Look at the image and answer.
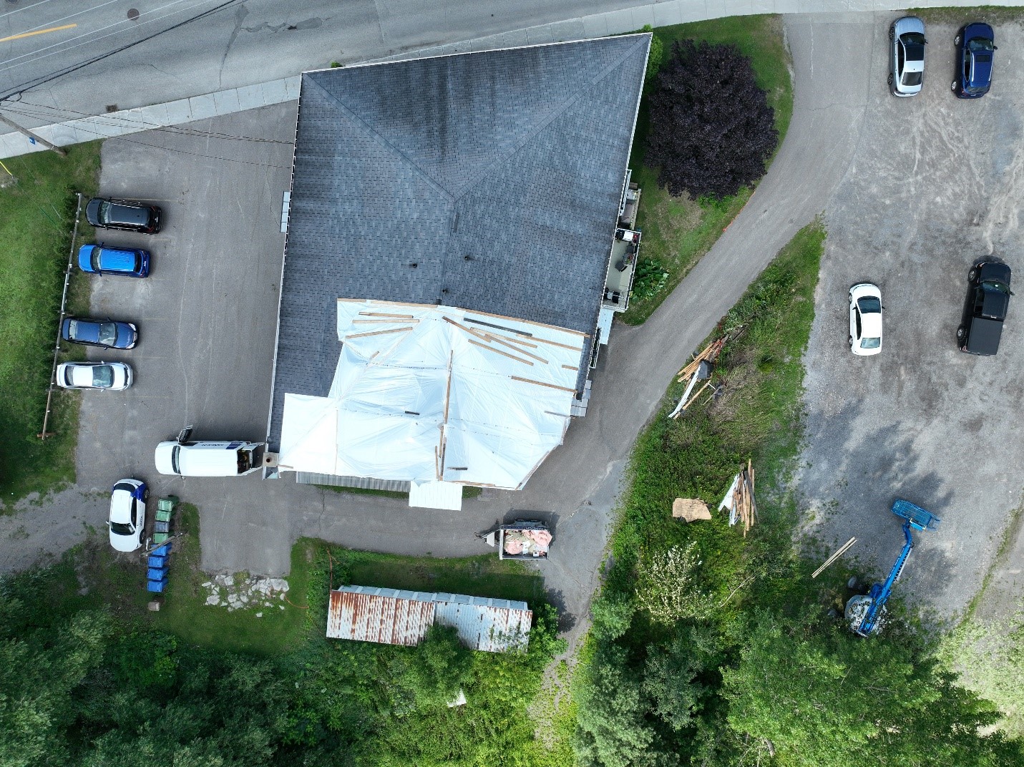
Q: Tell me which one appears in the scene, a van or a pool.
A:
van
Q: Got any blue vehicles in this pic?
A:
Yes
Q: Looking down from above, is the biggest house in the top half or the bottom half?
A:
top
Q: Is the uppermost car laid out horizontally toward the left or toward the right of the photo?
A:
left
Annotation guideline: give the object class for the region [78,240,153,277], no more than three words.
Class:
car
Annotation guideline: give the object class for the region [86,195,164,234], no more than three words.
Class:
car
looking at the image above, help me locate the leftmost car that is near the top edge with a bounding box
[888,19,931,97]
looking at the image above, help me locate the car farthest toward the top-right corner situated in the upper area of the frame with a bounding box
[954,23,1001,99]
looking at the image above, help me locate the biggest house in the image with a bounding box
[263,30,654,487]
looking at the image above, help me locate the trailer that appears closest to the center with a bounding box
[473,521,549,564]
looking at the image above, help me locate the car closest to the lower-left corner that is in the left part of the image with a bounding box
[105,478,149,551]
